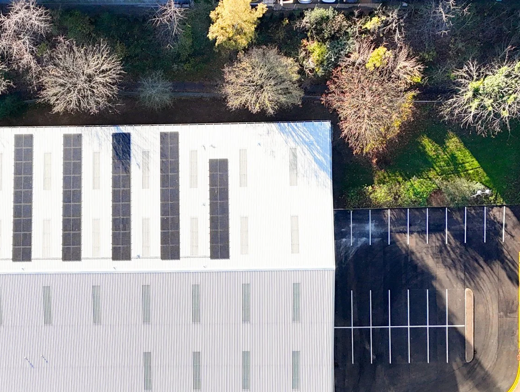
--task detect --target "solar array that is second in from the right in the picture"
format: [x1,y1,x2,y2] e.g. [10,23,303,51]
[160,132,180,259]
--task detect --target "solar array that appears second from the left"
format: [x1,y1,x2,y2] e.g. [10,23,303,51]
[61,133,83,260]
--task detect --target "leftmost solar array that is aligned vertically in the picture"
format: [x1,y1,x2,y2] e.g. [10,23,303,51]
[10,134,35,260]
